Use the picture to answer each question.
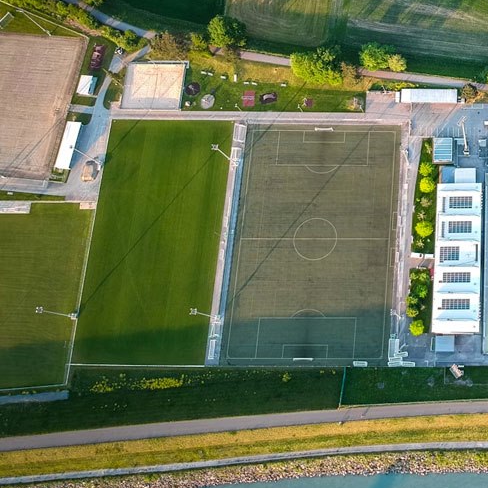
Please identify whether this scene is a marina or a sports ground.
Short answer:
sports ground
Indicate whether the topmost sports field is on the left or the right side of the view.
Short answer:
left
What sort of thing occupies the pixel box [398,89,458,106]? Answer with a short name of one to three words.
building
